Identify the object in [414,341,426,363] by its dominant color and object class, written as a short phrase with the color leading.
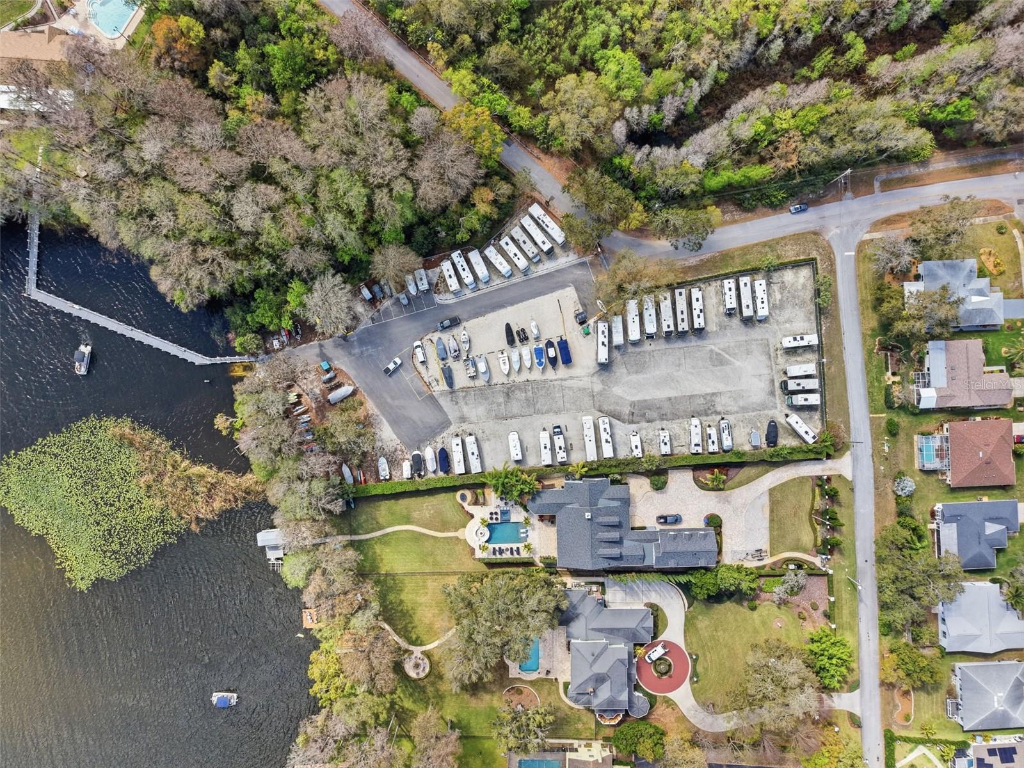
white vehicle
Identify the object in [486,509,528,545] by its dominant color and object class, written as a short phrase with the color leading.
blue swimming pool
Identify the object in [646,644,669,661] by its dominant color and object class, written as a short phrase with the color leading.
white car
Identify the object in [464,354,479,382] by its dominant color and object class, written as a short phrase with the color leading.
white boat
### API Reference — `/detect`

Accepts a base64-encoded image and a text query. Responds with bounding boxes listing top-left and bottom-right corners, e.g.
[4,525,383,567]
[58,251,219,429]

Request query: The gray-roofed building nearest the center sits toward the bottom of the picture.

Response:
[527,479,720,571]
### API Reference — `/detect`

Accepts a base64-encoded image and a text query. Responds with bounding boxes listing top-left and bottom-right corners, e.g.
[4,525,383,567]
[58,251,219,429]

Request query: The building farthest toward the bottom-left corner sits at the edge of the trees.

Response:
[255,527,289,573]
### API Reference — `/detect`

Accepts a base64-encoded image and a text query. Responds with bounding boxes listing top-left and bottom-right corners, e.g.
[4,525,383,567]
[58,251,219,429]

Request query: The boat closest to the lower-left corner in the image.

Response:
[212,691,241,708]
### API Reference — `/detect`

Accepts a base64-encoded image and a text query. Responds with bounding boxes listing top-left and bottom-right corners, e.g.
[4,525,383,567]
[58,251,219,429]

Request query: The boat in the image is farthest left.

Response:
[73,342,93,375]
